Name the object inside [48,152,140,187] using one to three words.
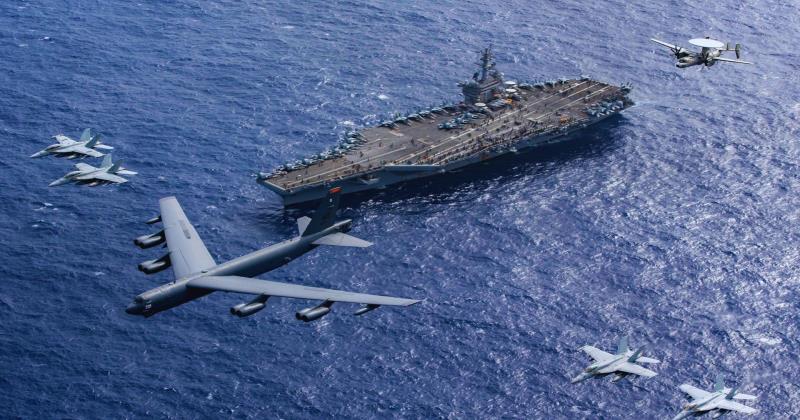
airplane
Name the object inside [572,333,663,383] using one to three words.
airplane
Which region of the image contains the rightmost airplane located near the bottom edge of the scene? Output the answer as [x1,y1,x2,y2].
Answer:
[672,372,759,420]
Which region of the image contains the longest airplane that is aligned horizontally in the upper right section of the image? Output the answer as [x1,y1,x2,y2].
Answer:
[652,35,754,70]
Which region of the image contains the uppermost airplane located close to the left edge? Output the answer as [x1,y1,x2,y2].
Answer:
[31,126,116,158]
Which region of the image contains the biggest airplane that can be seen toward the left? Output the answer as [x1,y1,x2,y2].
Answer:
[124,187,420,325]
